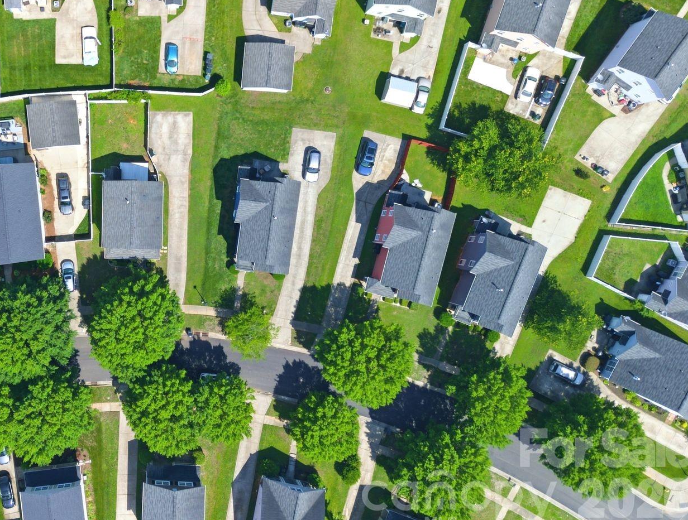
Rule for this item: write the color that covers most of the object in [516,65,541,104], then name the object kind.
white car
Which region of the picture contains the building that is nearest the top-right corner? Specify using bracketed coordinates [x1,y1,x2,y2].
[586,7,688,104]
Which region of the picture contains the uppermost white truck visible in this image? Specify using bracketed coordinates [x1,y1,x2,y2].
[82,26,103,66]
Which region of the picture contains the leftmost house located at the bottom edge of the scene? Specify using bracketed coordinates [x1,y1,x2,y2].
[19,461,87,520]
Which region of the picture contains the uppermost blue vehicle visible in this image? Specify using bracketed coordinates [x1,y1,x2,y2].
[164,42,179,75]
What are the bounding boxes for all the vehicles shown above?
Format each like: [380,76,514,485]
[516,65,541,104]
[304,148,321,182]
[412,77,431,113]
[0,472,16,508]
[56,174,74,215]
[164,42,179,75]
[355,137,378,179]
[59,259,76,292]
[547,360,584,385]
[82,26,103,66]
[533,74,557,109]
[0,436,11,463]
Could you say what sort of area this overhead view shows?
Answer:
residential area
